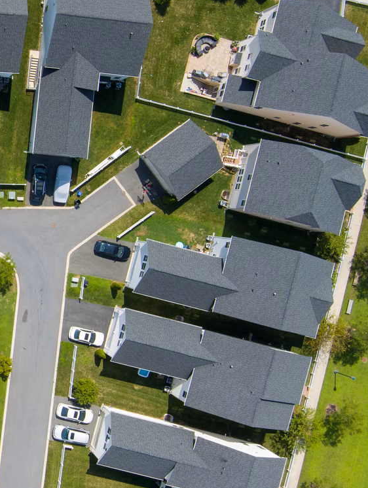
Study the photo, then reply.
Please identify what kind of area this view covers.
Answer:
residential area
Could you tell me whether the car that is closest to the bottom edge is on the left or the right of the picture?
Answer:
left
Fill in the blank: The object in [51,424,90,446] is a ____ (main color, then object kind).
white car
